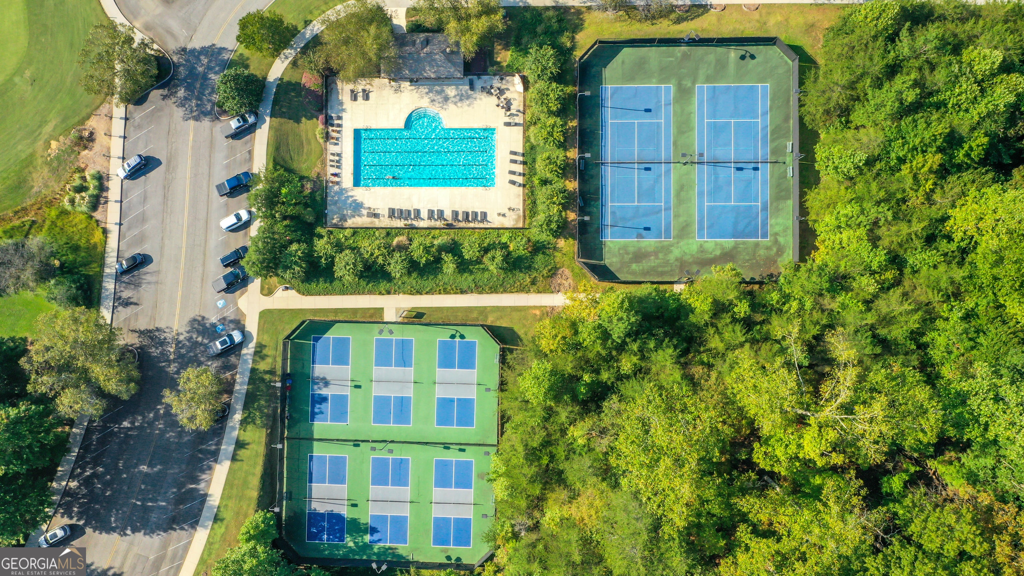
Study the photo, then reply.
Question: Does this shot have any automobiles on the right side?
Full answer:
No, no automobile can be made out on the right side.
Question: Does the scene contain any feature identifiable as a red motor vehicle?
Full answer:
No, the frame has no red motor vehicle in it.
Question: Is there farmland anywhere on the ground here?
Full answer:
No, no farmland is visible.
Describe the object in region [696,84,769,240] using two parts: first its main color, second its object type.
blue tennis court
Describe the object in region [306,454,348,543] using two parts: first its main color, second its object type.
blue sports court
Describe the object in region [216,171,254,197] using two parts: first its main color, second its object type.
blue truck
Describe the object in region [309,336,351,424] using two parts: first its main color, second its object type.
blue sports court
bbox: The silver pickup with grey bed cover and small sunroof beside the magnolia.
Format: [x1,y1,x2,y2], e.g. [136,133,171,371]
[221,113,259,139]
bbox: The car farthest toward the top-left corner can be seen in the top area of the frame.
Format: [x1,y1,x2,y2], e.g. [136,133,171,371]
[119,154,150,181]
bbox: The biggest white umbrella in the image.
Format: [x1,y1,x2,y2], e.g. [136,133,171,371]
[497,74,525,92]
